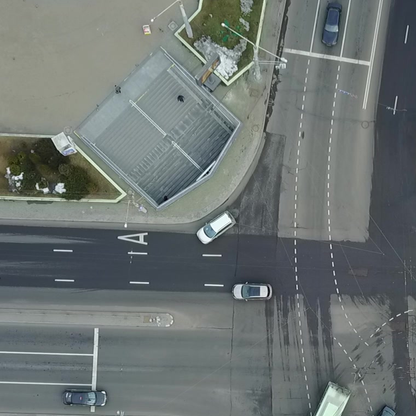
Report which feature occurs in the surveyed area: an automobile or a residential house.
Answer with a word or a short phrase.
automobile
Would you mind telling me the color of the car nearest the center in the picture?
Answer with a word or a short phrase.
white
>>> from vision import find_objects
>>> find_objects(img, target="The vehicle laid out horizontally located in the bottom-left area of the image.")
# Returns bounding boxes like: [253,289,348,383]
[63,387,109,408]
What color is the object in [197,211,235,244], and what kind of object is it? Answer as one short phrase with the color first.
white car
